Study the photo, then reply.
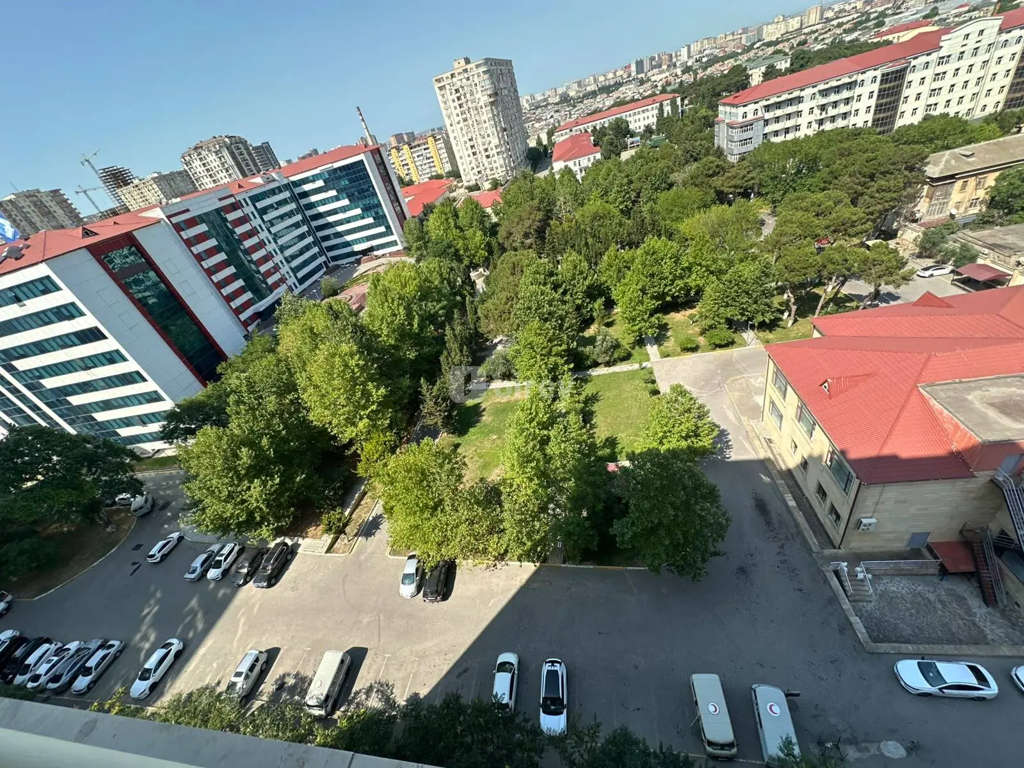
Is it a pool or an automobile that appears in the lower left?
automobile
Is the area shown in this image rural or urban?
urban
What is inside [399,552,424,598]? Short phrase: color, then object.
white car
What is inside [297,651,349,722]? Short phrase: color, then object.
white van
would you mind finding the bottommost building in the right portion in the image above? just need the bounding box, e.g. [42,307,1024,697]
[759,284,1024,549]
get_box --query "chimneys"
[356,106,374,144]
